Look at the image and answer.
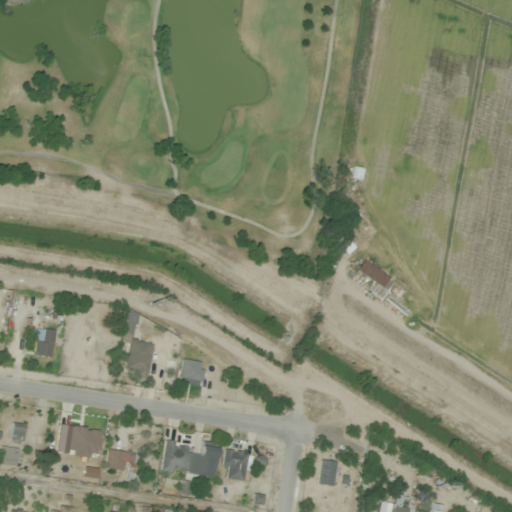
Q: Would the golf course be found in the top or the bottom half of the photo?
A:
top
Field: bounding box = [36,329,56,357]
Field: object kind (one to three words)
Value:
house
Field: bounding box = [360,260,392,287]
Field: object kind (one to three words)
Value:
barn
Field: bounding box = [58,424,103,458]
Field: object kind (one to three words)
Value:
house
